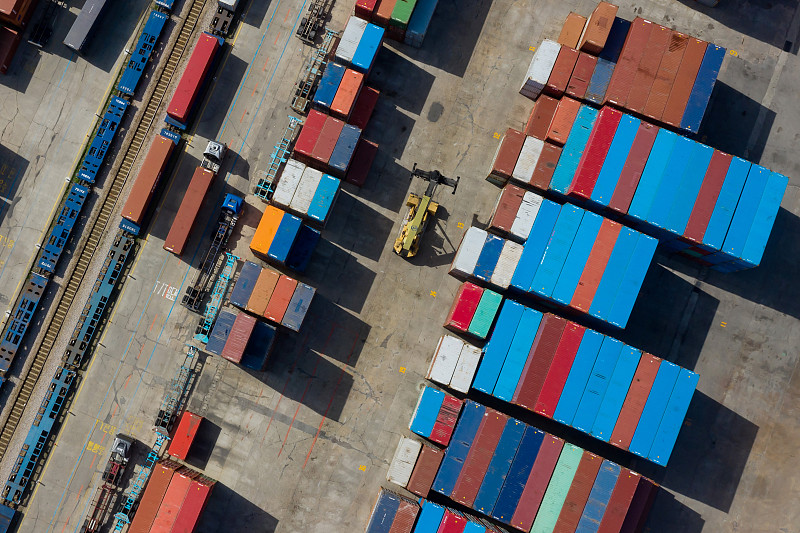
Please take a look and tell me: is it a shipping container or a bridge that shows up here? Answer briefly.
shipping container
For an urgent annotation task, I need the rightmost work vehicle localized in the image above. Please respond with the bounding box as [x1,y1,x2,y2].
[391,158,462,263]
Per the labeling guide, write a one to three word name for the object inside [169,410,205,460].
shipping container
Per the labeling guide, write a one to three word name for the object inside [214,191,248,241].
truck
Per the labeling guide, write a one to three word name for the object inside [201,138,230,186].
truck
